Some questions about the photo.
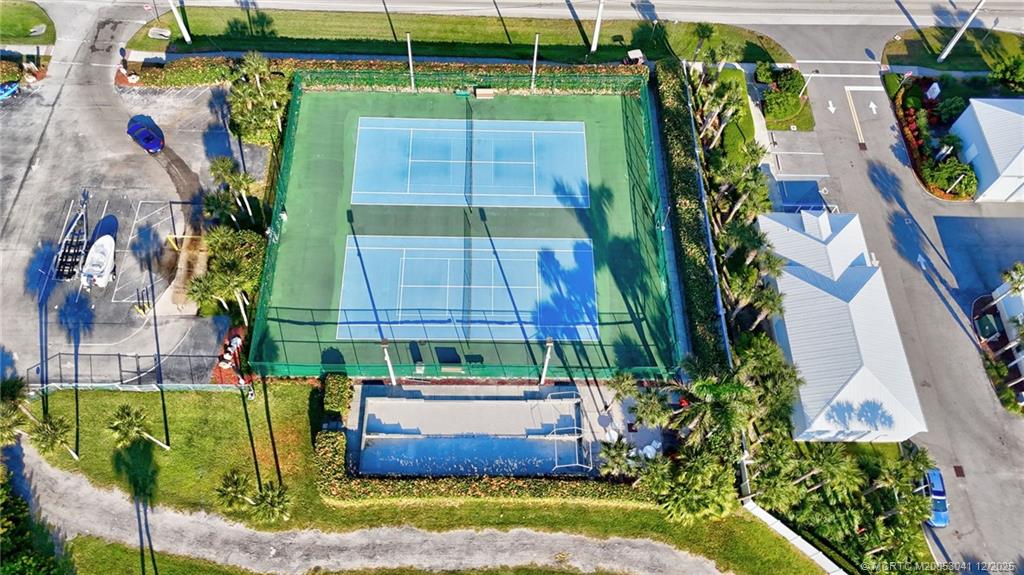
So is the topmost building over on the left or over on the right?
right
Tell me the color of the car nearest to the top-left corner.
blue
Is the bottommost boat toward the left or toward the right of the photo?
left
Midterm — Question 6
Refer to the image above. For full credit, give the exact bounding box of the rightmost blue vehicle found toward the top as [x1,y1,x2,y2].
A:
[126,121,165,153]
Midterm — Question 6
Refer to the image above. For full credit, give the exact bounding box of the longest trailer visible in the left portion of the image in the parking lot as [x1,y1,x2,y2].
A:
[60,200,92,265]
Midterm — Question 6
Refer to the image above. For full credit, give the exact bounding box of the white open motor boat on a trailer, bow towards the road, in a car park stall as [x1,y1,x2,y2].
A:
[80,235,115,296]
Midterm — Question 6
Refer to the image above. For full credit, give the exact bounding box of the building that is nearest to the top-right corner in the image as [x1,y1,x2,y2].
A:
[952,100,1024,202]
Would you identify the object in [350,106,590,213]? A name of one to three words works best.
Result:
tennis court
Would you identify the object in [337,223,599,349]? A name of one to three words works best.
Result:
tennis court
